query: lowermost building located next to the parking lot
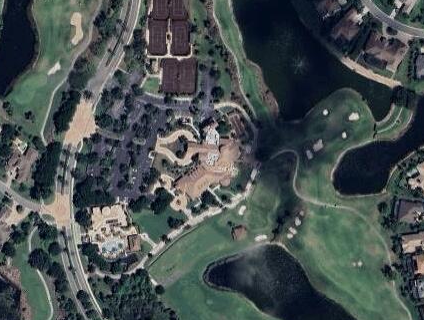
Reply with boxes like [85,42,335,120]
[92,205,128,227]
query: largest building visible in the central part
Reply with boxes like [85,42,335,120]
[173,118,243,202]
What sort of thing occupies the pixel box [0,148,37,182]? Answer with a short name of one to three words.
house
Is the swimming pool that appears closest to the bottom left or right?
left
